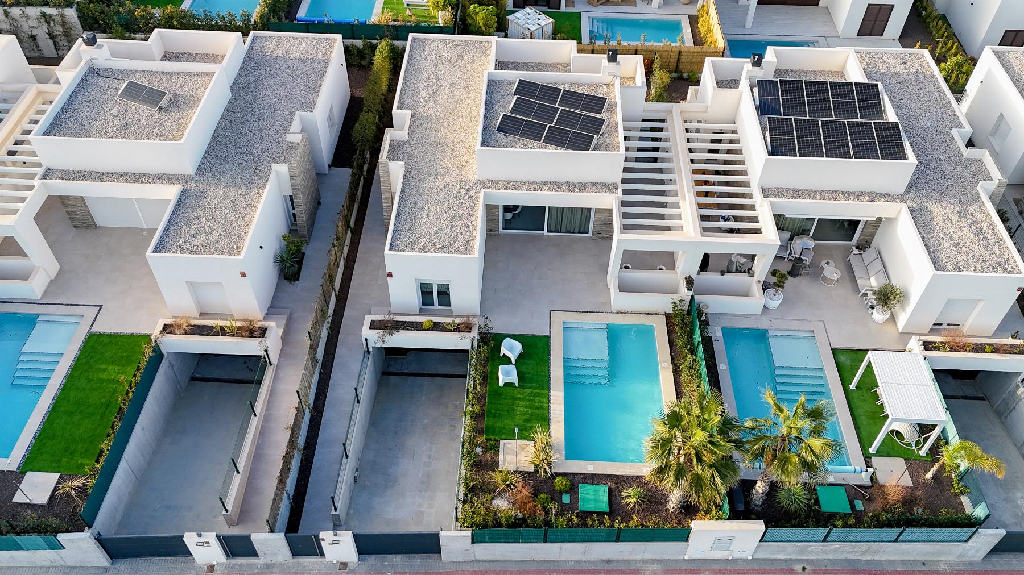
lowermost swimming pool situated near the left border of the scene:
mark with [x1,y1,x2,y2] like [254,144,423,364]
[0,303,100,472]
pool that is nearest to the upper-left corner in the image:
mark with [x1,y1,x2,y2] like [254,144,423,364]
[178,0,263,21]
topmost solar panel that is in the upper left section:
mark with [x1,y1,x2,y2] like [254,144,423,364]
[117,78,169,109]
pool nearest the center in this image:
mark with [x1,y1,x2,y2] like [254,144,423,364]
[550,310,681,477]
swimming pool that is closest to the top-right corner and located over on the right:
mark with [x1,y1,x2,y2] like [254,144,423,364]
[726,34,831,59]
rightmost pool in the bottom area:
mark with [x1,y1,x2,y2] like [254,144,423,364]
[706,317,872,486]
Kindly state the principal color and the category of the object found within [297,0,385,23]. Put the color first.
blue swimming pool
